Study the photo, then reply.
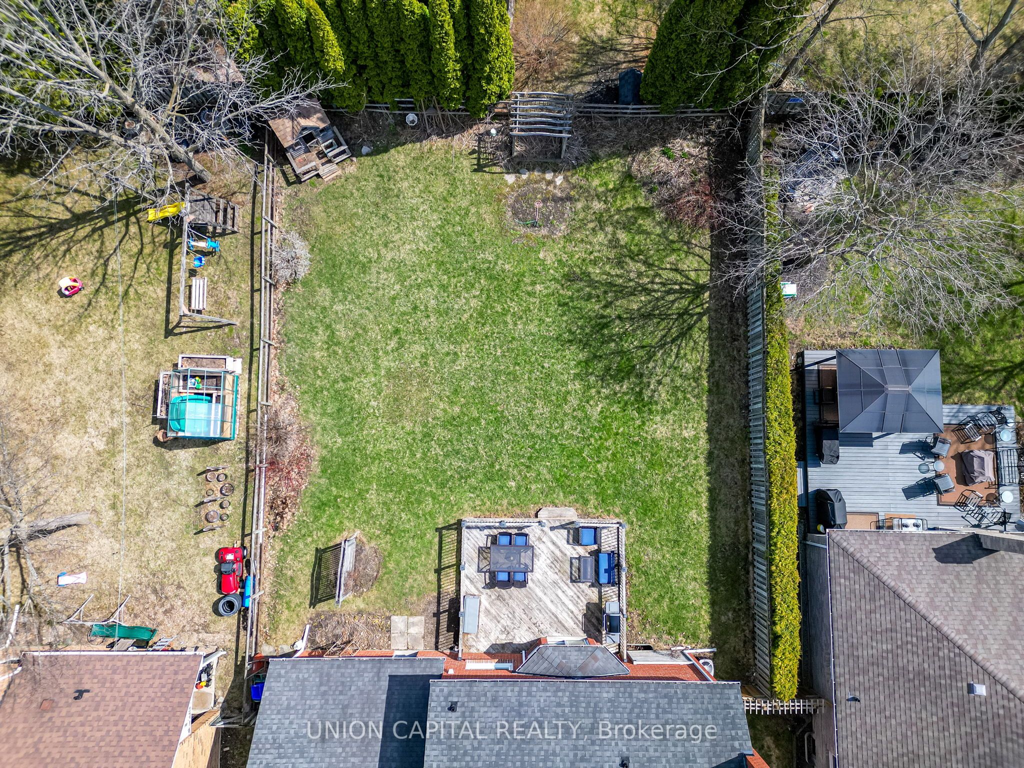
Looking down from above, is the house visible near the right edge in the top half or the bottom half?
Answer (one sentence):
The house visible near the right edge is in the bottom half of the image.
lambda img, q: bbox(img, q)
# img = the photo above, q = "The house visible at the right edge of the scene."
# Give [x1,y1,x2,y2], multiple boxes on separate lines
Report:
[796,527,1024,768]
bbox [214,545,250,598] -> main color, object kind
red work vehicle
